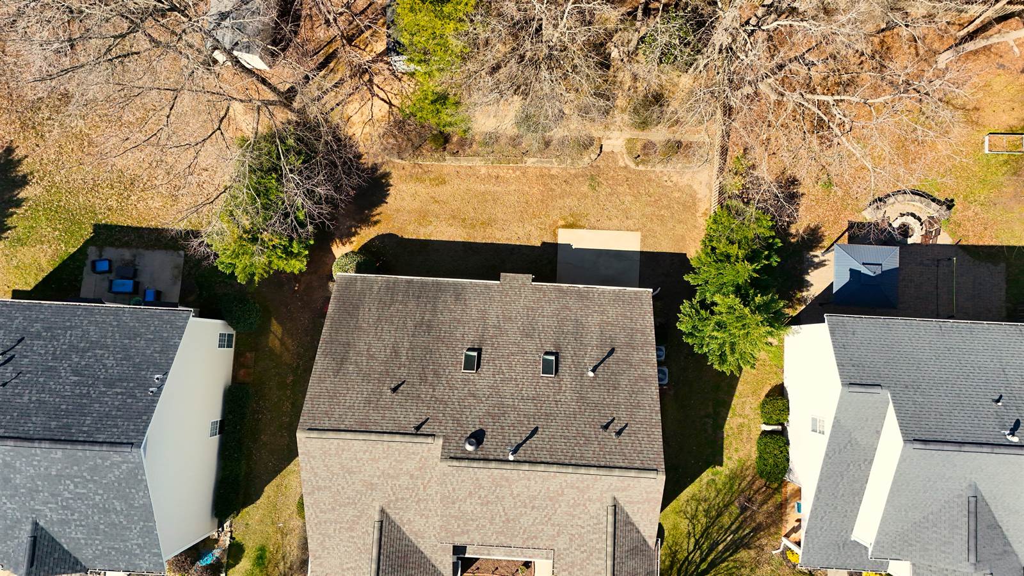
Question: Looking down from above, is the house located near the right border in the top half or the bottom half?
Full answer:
It is in the bottom half that the house located near the right border appears.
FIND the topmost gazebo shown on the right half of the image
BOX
[816,243,900,309]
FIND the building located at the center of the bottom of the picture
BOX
[299,271,665,576]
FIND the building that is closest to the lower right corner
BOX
[783,313,1024,576]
